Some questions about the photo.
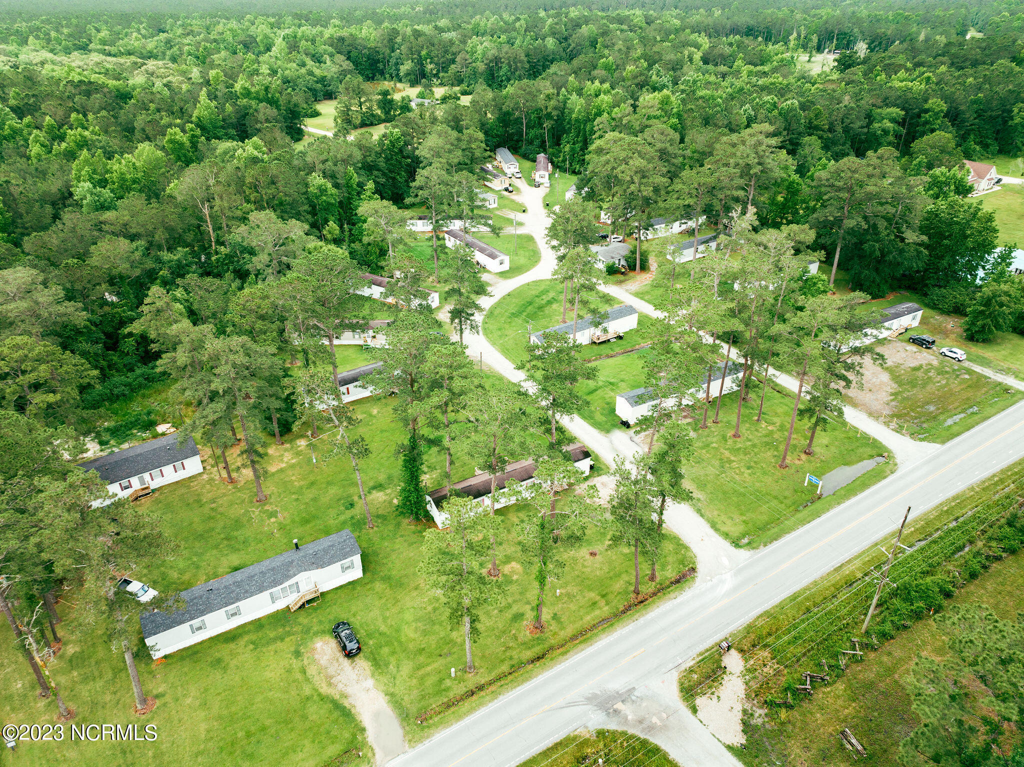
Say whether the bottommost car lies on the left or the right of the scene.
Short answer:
left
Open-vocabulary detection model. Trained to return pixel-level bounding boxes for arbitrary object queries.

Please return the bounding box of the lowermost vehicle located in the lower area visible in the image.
[333,620,362,661]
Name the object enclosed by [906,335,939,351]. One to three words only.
car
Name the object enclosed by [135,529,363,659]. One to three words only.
house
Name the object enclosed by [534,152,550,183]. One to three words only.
house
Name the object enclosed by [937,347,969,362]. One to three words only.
car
